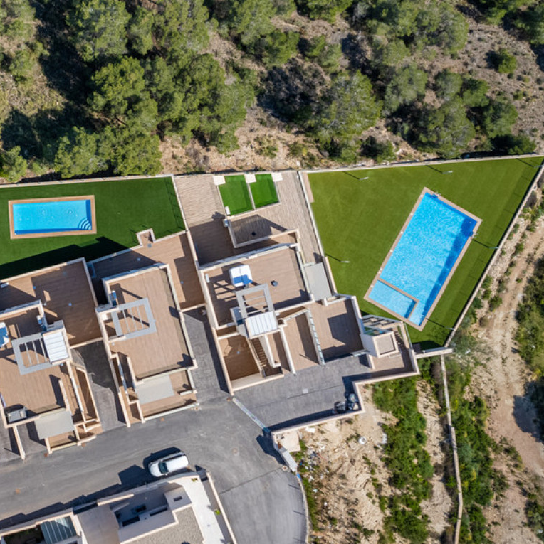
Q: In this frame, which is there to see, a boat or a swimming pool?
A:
swimming pool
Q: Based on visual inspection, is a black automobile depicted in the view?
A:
No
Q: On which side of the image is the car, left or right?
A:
left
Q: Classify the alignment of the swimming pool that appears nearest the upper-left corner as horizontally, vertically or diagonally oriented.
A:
horizontally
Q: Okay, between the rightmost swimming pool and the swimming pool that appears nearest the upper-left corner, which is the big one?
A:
the rightmost swimming pool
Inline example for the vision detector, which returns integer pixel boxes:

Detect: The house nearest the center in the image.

[191,244,331,374]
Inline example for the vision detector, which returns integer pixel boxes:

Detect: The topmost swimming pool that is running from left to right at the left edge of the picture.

[9,196,97,239]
